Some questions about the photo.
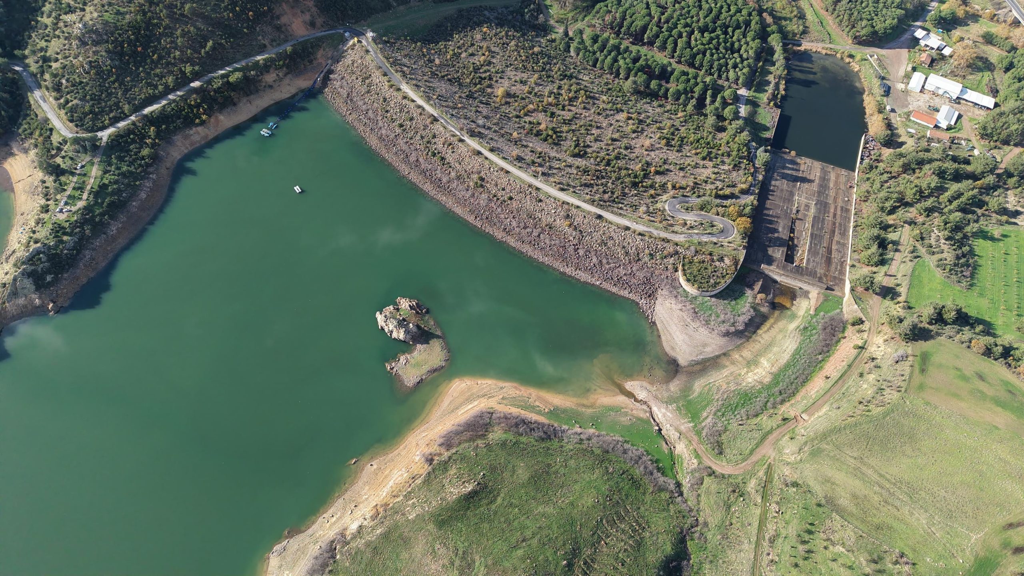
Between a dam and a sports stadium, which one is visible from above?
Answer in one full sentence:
The image shows a dam.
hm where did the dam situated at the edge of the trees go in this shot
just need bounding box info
[321,20,752,328]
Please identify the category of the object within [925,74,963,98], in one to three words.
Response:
barn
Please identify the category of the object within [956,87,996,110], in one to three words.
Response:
shed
